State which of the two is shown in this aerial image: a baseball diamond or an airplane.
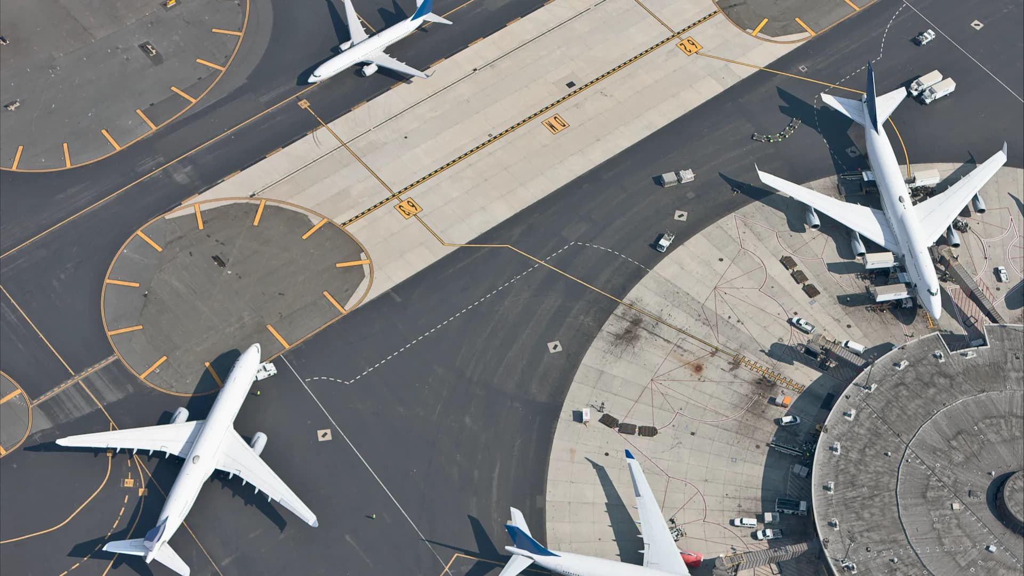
airplane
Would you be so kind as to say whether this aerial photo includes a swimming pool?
No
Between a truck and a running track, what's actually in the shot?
truck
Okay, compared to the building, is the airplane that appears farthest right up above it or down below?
above it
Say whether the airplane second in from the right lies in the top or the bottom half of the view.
bottom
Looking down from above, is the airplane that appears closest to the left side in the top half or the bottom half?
bottom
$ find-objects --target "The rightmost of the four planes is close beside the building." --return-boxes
[755,60,1011,322]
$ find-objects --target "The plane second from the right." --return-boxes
[501,447,708,576]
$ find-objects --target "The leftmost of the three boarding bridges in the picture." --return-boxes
[711,539,812,576]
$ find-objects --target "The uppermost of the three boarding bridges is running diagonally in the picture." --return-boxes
[927,242,1008,324]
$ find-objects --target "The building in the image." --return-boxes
[809,322,1024,576]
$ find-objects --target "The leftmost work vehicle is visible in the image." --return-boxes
[256,363,278,383]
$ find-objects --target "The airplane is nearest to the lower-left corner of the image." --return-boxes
[57,346,319,572]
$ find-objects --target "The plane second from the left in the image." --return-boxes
[308,0,453,84]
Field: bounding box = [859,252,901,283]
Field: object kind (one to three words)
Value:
truck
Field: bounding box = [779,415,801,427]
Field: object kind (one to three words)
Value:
vehicle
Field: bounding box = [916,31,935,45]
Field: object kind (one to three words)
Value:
vehicle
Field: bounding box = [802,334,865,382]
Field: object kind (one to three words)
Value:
jet bridge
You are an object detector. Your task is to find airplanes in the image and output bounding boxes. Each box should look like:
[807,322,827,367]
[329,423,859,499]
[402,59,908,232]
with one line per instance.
[308,0,453,84]
[57,346,319,572]
[501,447,708,576]
[755,60,1011,322]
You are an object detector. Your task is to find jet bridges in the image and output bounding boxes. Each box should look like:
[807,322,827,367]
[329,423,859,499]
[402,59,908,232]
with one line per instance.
[802,334,865,382]
[711,539,812,576]
[927,242,1008,324]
